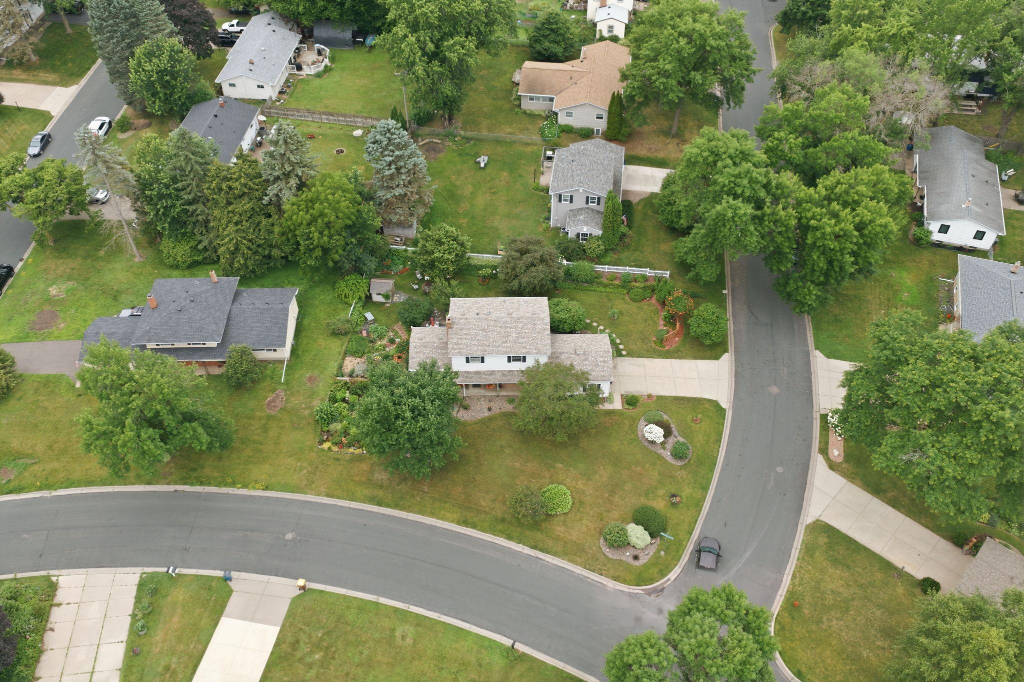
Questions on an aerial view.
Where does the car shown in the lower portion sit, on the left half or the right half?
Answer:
right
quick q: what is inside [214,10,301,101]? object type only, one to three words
house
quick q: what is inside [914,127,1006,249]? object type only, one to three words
house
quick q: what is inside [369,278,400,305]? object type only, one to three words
shed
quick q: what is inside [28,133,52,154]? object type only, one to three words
car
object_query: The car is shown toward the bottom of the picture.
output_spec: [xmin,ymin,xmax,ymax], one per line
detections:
[696,535,723,575]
